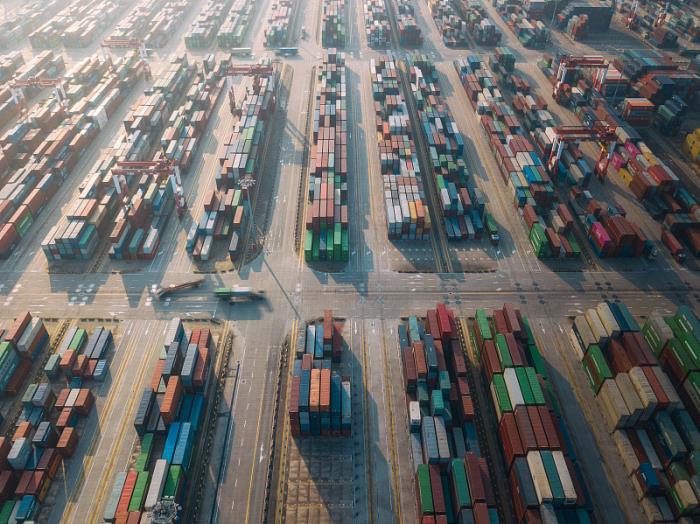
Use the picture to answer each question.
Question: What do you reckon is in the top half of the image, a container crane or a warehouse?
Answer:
container crane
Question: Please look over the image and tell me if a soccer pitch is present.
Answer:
No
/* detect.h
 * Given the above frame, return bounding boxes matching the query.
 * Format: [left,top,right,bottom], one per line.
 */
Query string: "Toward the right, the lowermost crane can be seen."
[547,127,621,182]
